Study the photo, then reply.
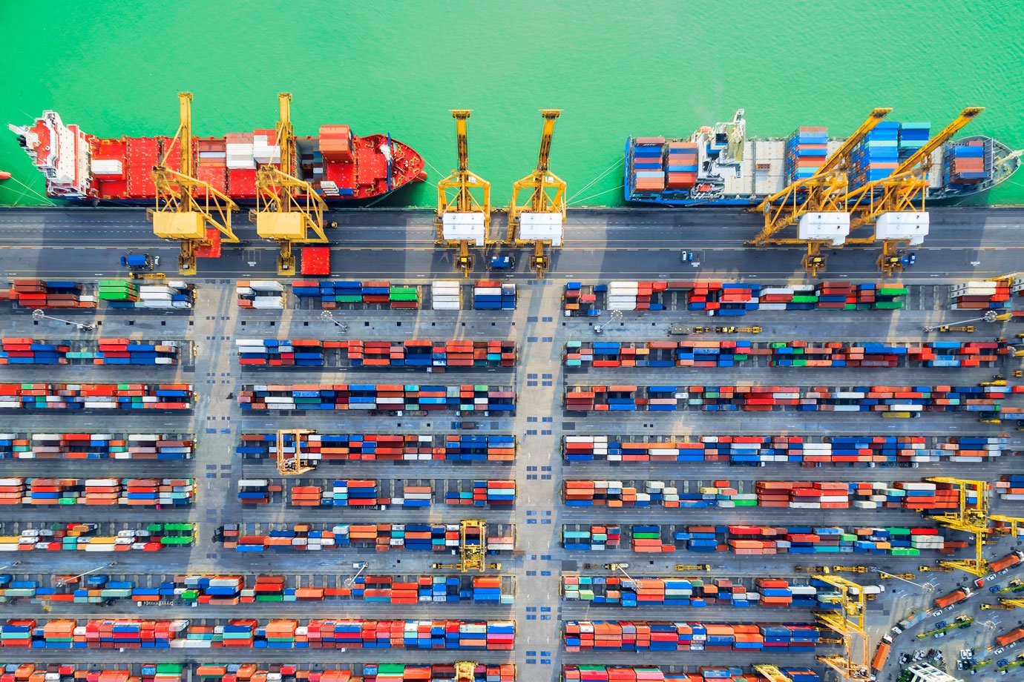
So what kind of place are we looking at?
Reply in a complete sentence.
This image shows a port.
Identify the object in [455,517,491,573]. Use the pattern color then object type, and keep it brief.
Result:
yellow container crane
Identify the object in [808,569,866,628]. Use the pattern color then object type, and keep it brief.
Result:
yellow container crane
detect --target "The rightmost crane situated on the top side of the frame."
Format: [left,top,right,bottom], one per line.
[826,108,984,288]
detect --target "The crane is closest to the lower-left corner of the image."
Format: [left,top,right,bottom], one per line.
[276,425,318,477]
